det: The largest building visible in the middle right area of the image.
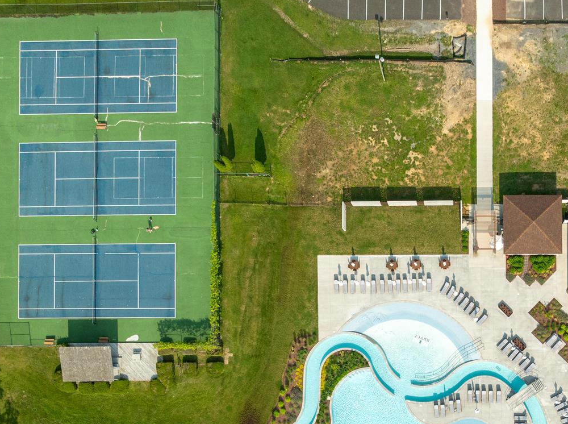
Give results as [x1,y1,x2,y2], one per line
[501,194,562,255]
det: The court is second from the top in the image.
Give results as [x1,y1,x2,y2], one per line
[18,132,176,221]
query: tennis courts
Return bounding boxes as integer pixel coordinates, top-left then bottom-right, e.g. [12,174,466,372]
[19,28,177,117]
[18,132,176,221]
[18,235,176,324]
